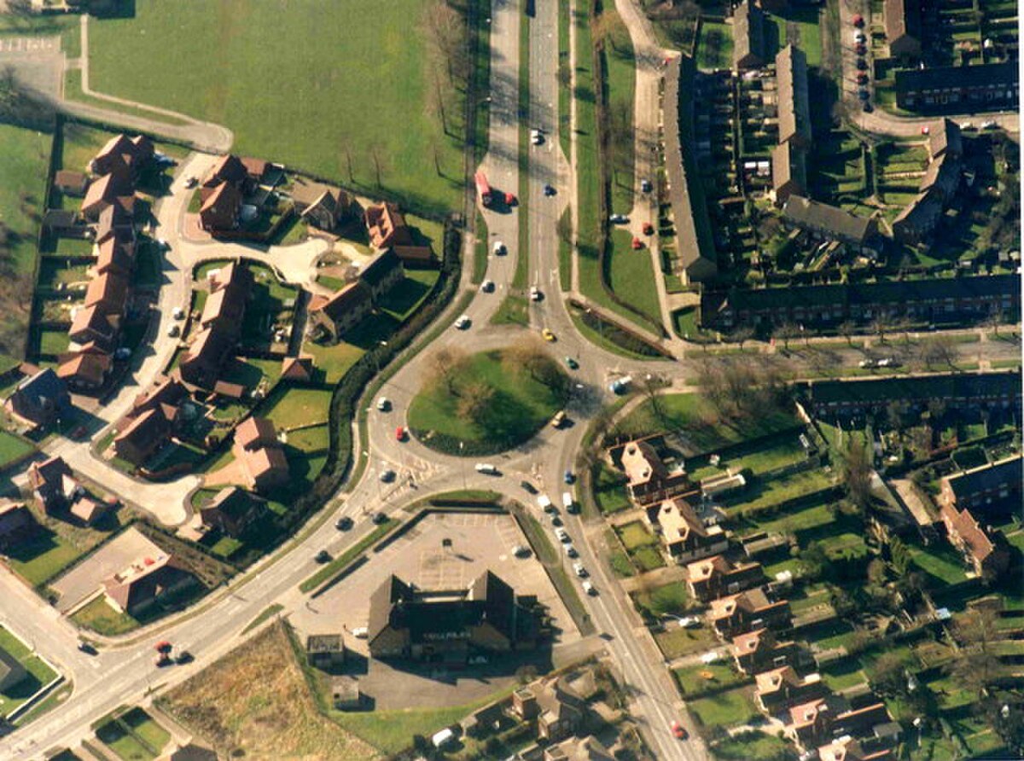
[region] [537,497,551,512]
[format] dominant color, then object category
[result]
white vehicle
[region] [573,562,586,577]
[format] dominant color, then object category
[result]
white vehicle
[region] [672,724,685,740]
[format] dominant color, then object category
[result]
red vehicle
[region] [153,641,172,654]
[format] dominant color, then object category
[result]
red vehicle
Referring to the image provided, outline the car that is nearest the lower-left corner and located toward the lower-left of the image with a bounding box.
[78,642,96,655]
